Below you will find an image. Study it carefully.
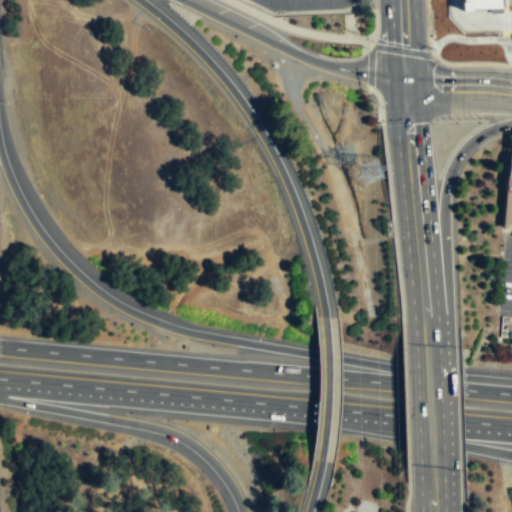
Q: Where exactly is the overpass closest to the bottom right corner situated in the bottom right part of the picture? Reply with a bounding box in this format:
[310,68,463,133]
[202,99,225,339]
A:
[402,344,462,500]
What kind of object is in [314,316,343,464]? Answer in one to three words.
overpass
